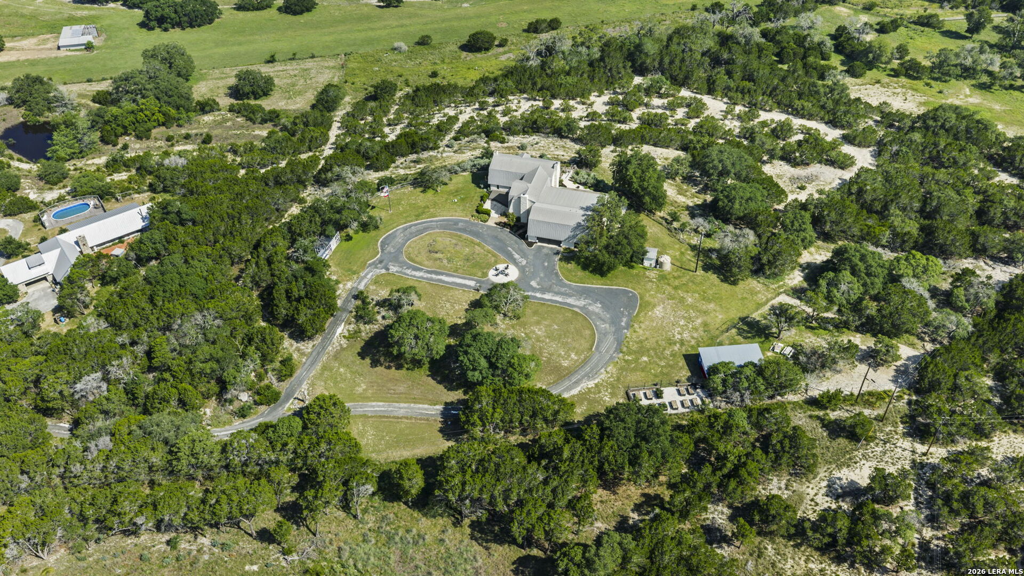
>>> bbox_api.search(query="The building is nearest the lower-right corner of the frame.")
[697,342,768,383]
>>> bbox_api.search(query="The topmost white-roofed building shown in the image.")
[58,24,101,50]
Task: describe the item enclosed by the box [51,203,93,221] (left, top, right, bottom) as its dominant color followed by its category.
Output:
blue swimming pool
